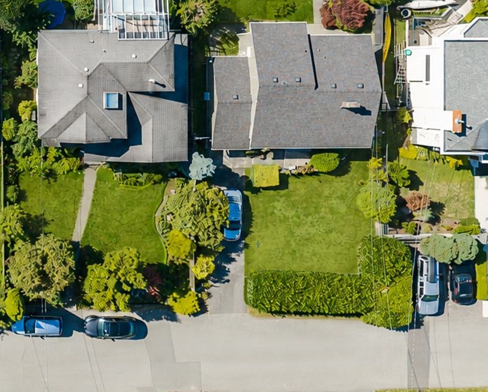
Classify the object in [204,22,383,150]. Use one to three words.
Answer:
house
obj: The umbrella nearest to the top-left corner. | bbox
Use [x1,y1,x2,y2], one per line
[36,0,65,29]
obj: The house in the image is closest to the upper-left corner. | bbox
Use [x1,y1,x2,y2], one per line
[37,30,190,169]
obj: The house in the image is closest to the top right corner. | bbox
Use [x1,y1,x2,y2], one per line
[381,19,488,155]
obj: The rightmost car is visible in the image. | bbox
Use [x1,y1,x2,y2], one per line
[446,260,477,314]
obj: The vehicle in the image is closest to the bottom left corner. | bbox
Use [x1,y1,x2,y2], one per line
[9,312,65,339]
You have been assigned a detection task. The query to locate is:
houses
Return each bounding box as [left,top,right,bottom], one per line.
[204,22,383,150]
[37,30,190,169]
[381,19,488,155]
